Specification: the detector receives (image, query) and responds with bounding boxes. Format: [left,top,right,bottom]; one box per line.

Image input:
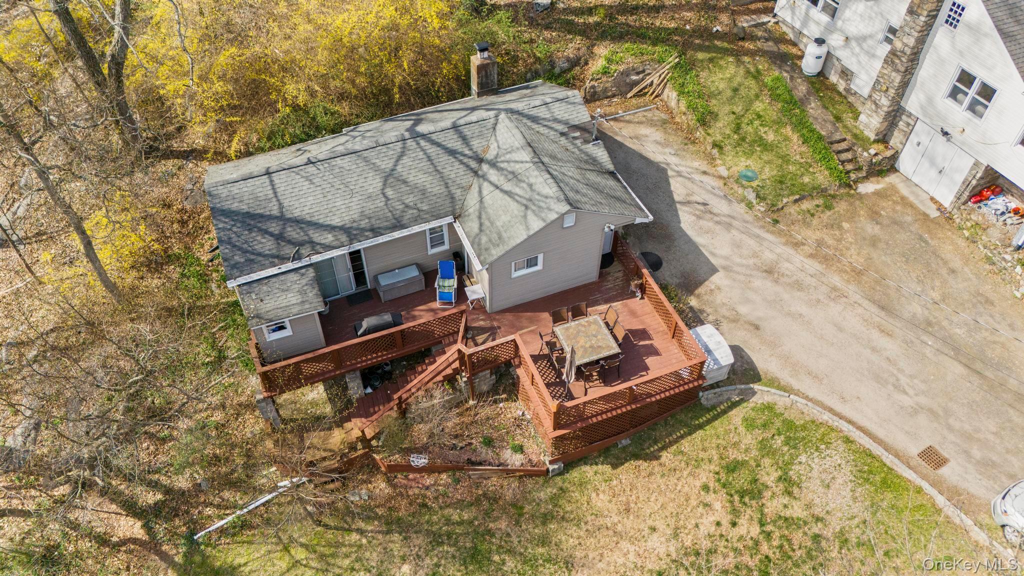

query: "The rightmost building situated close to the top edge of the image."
[769,0,1024,210]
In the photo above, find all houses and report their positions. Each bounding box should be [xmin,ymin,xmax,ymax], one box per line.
[202,35,657,366]
[769,0,1024,210]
